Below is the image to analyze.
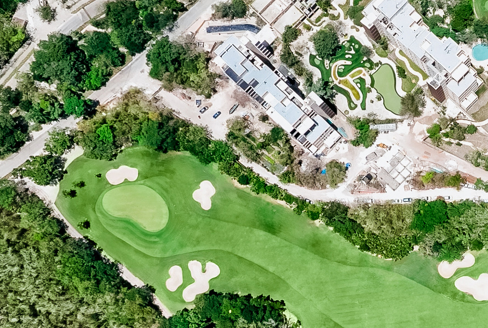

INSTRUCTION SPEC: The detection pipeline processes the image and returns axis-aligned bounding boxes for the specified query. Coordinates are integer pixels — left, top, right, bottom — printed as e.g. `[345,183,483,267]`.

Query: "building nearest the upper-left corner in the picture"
[11,3,36,27]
